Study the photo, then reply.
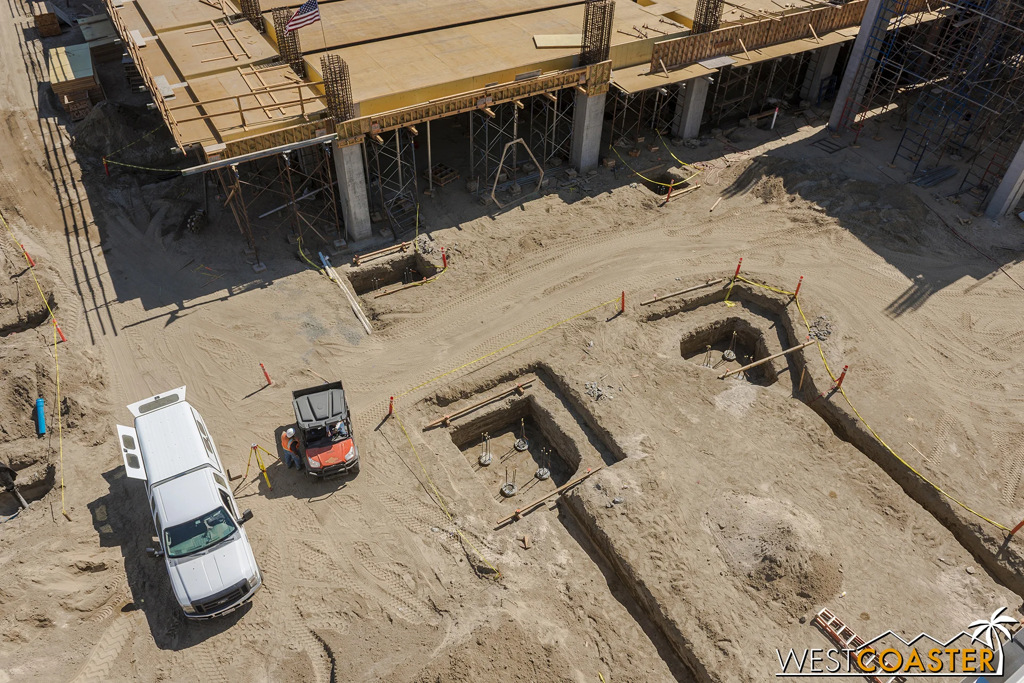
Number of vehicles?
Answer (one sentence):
The number of vehicles here is 2.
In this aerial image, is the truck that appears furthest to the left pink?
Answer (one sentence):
No, the truck that appears furthest to the left is white.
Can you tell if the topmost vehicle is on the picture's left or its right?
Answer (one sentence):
It is on the left.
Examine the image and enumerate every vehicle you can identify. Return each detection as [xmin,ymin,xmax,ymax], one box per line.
[289,382,359,483]
[115,386,262,621]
